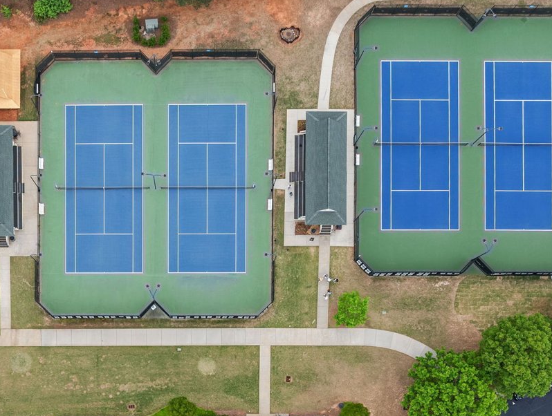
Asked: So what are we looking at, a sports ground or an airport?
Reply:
sports ground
